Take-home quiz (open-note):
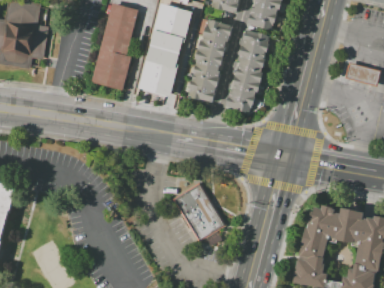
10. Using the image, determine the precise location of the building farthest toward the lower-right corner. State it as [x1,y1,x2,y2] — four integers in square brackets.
[294,205,384,288]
